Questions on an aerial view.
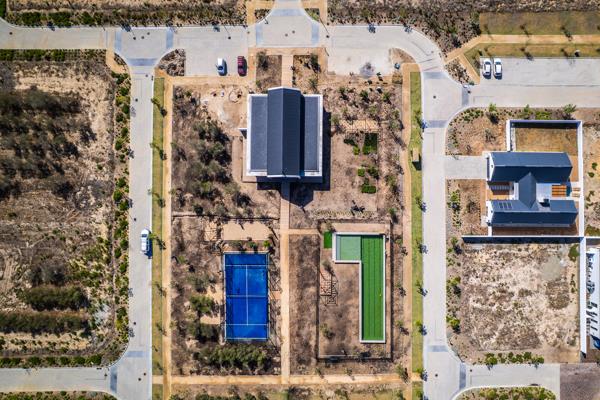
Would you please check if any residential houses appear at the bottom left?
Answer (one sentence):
No, no residential house is visible at the bottom left.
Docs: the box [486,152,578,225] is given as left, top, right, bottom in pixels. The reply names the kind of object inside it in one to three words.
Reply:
house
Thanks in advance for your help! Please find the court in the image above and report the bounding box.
[220,252,268,344]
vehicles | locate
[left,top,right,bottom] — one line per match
[139,230,150,252]
[216,58,225,75]
[482,59,492,77]
[492,59,503,77]
[236,56,245,75]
